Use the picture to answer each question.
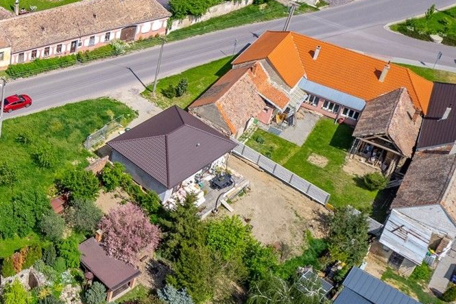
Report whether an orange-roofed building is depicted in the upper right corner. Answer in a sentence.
Yes, looking in the upper right corner, one can make out an orange-roofed building.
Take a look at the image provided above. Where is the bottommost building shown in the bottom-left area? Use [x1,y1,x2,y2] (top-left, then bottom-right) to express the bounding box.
[78,238,140,304]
